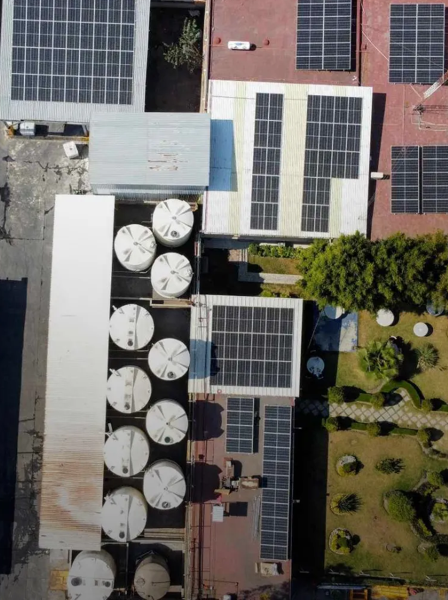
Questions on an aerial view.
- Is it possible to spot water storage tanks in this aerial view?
Yes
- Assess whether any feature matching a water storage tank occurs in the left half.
Yes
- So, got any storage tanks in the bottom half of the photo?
Yes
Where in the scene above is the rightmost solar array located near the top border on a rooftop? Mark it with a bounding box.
[390,4,445,84]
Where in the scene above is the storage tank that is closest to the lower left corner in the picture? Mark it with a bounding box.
[67,546,118,600]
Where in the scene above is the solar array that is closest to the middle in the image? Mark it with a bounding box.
[210,306,294,388]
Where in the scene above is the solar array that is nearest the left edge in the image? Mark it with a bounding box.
[10,0,135,104]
